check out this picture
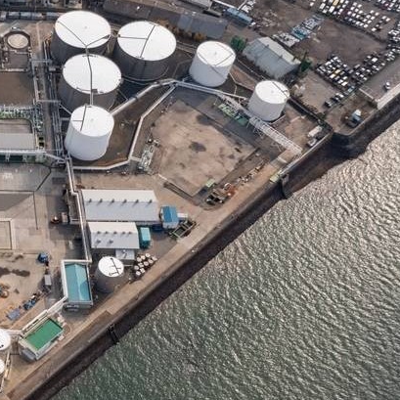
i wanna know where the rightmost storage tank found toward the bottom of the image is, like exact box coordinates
[92,256,126,295]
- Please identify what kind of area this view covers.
industrial area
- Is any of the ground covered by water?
Yes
